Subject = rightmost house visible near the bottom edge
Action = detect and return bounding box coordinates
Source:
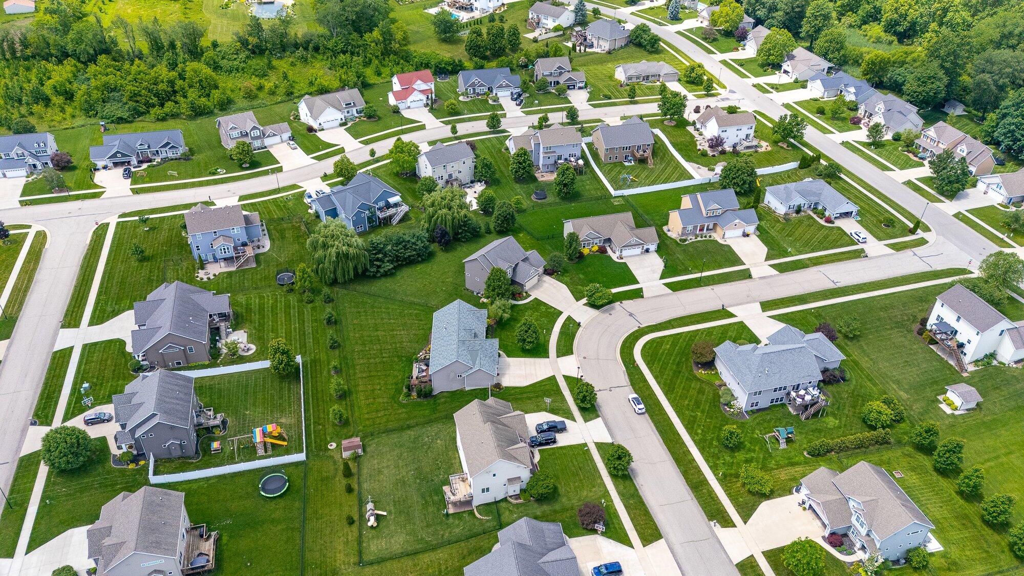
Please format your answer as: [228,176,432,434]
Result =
[798,463,936,560]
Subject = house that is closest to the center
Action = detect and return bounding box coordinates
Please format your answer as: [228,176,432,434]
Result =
[463,238,547,298]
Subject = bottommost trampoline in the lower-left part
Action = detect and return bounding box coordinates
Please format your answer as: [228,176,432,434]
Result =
[255,465,289,499]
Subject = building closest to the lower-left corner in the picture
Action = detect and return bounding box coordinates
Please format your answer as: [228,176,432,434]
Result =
[86,489,221,576]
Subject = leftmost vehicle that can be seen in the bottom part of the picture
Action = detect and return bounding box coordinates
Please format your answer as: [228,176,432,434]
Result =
[79,409,114,425]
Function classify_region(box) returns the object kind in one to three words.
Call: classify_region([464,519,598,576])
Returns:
house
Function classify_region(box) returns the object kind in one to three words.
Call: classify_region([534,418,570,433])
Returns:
vehicle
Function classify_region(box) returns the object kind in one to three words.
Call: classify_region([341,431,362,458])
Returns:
shed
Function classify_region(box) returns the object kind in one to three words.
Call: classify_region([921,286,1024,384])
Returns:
house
